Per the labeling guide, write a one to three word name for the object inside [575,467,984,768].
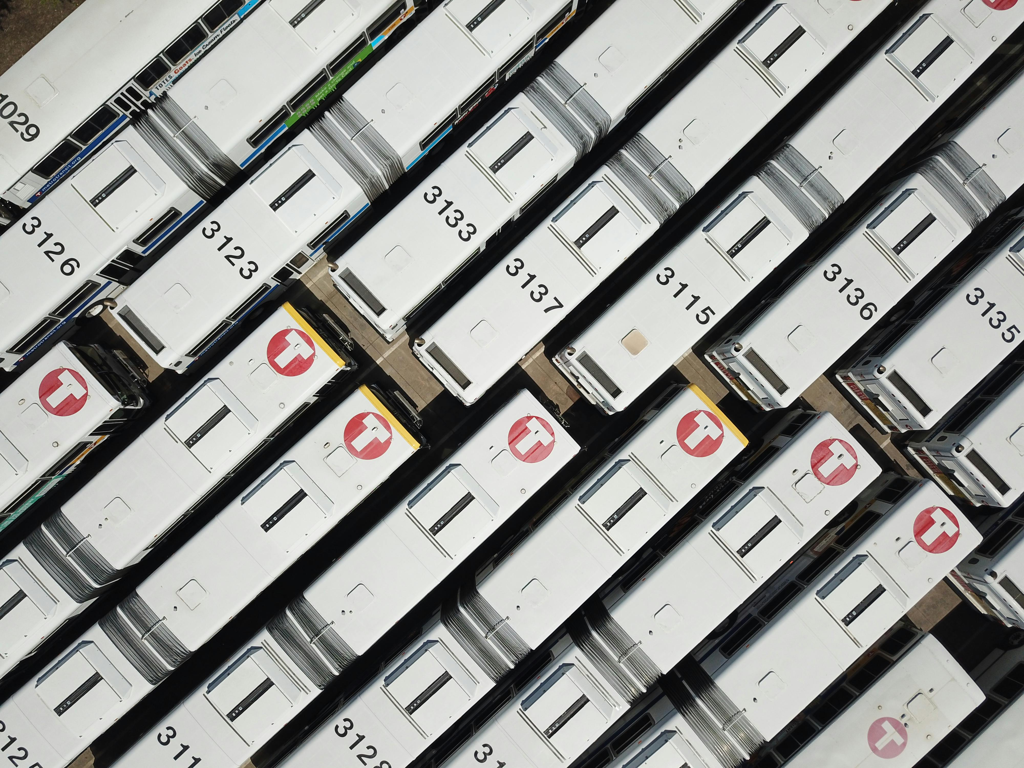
bus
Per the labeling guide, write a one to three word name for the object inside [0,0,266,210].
bus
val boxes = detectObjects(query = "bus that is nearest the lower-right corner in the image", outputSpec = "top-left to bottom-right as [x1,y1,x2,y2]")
[907,627,1024,768]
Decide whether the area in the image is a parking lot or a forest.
parking lot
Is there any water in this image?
No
